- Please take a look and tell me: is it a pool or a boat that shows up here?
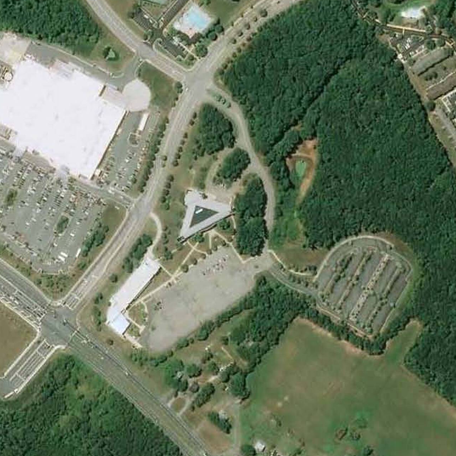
pool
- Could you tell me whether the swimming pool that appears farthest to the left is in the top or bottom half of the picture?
top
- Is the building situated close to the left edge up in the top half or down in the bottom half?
top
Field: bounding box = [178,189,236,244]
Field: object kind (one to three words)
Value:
building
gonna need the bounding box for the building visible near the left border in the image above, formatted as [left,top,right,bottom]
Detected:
[0,59,127,181]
